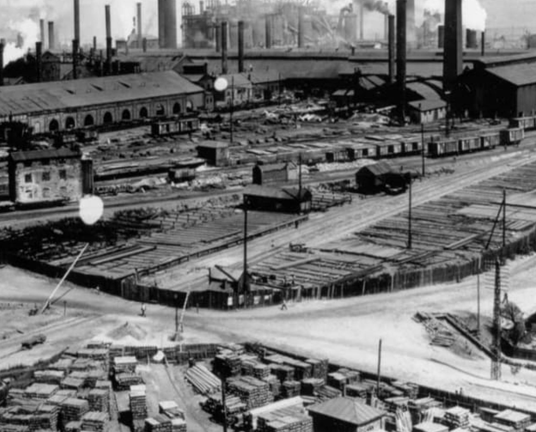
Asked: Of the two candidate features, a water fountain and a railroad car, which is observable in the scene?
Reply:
railroad car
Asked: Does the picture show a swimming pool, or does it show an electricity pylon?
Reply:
electricity pylon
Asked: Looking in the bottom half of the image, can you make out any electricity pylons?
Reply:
Yes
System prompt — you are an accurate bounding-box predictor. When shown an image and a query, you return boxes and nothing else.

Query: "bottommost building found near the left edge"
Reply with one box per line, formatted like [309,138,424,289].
[0,143,86,205]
